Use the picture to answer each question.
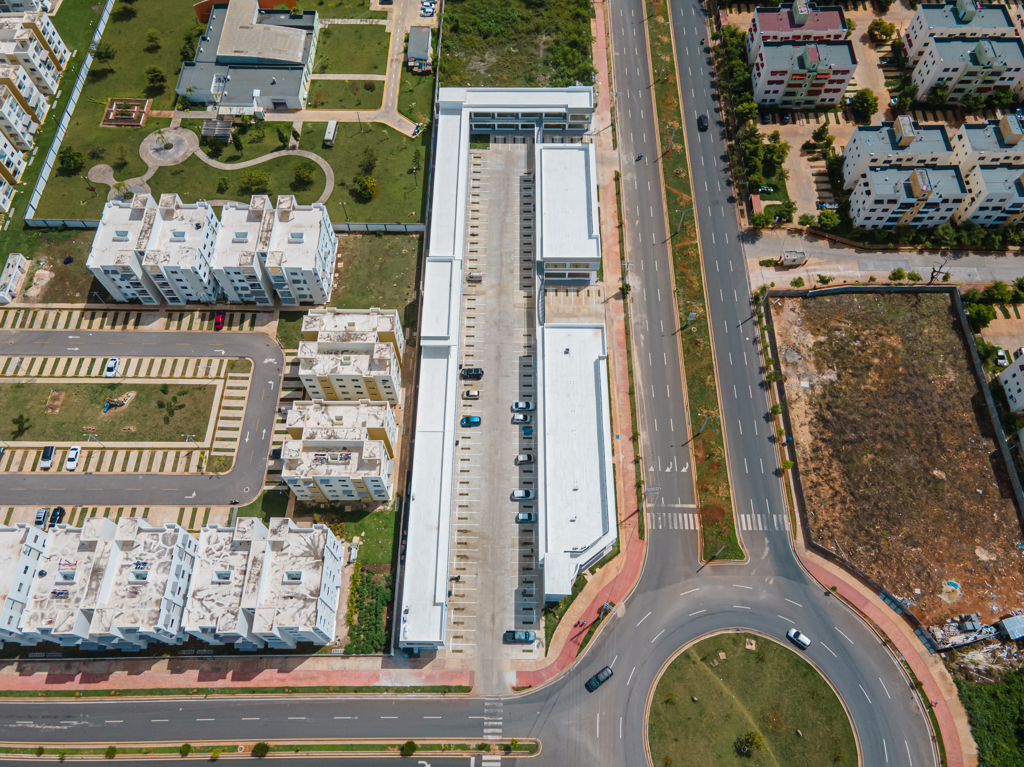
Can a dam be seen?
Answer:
No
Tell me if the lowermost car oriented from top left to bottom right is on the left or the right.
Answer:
right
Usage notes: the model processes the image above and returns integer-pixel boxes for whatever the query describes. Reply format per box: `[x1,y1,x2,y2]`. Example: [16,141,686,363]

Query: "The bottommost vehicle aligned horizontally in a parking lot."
[504,631,534,644]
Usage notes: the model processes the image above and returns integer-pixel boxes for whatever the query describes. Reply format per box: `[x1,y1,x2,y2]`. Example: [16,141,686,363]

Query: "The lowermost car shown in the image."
[586,665,612,693]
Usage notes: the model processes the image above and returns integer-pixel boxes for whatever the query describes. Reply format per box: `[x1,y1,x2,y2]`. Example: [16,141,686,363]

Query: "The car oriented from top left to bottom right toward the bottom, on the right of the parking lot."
[784,627,814,652]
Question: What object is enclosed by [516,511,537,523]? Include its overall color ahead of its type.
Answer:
blue vehicle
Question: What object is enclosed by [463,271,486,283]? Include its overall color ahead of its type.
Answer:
gray vehicle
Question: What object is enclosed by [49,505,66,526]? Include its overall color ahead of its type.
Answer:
black car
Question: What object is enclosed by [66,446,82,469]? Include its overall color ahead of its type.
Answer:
white car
